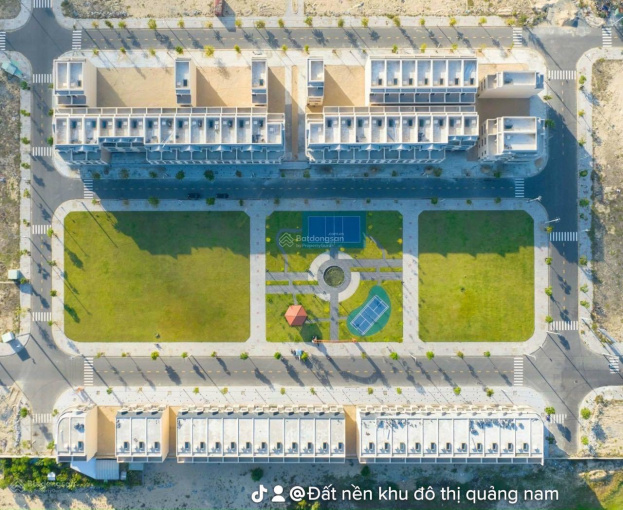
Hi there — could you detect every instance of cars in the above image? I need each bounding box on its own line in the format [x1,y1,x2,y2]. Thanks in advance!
[187,192,200,198]
[215,192,228,198]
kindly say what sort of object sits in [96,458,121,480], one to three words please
shed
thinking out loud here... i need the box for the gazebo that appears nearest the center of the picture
[286,306,308,325]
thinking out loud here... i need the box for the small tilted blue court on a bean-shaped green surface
[347,285,391,336]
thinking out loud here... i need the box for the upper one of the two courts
[302,211,366,248]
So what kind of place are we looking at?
residential area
